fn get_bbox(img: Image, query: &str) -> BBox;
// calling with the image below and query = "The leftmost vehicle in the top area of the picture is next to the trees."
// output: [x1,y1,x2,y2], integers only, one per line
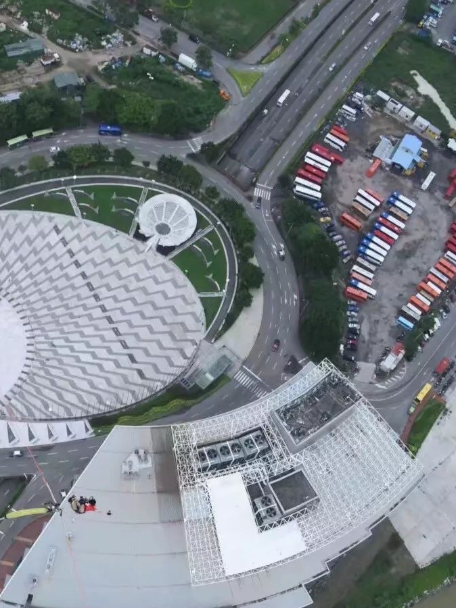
[7,137,29,153]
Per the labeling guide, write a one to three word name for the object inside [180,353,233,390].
building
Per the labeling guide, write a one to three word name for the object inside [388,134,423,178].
building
